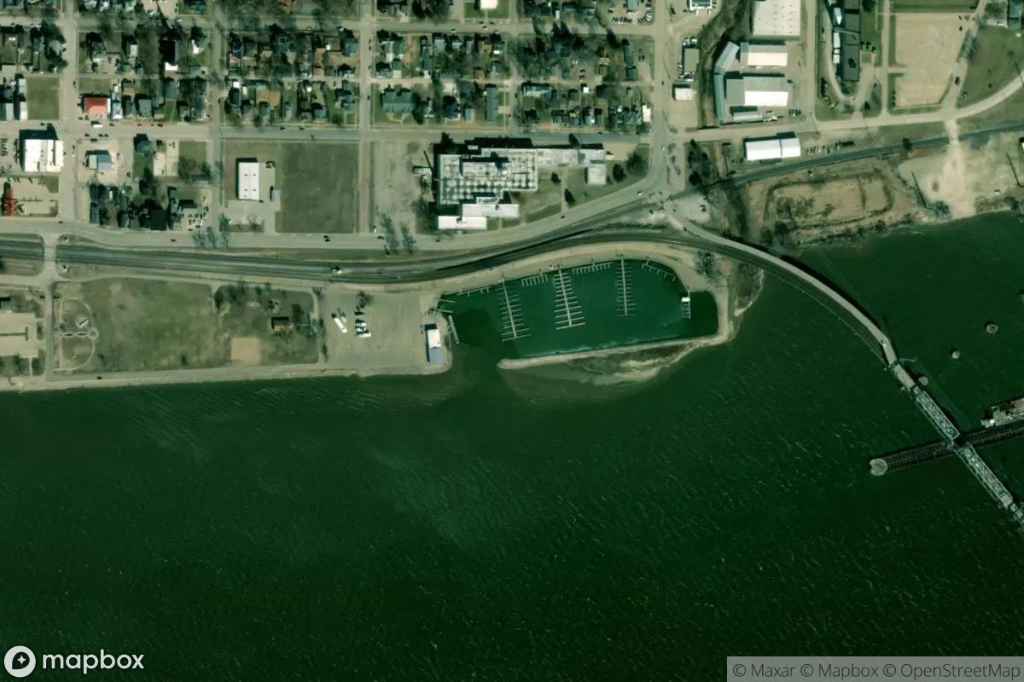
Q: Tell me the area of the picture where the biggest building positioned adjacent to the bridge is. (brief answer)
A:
top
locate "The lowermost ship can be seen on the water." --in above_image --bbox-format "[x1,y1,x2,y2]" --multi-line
[981,398,1024,427]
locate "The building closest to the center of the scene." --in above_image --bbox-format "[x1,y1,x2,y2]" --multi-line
[427,329,444,367]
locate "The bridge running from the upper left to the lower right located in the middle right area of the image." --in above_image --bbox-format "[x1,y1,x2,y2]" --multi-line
[670,211,1024,530]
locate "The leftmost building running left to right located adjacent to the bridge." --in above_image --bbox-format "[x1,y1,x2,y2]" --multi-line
[438,145,606,204]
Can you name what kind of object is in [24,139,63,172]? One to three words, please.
building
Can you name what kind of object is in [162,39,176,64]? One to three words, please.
house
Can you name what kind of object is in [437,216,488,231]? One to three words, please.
building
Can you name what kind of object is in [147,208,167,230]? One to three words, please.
house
